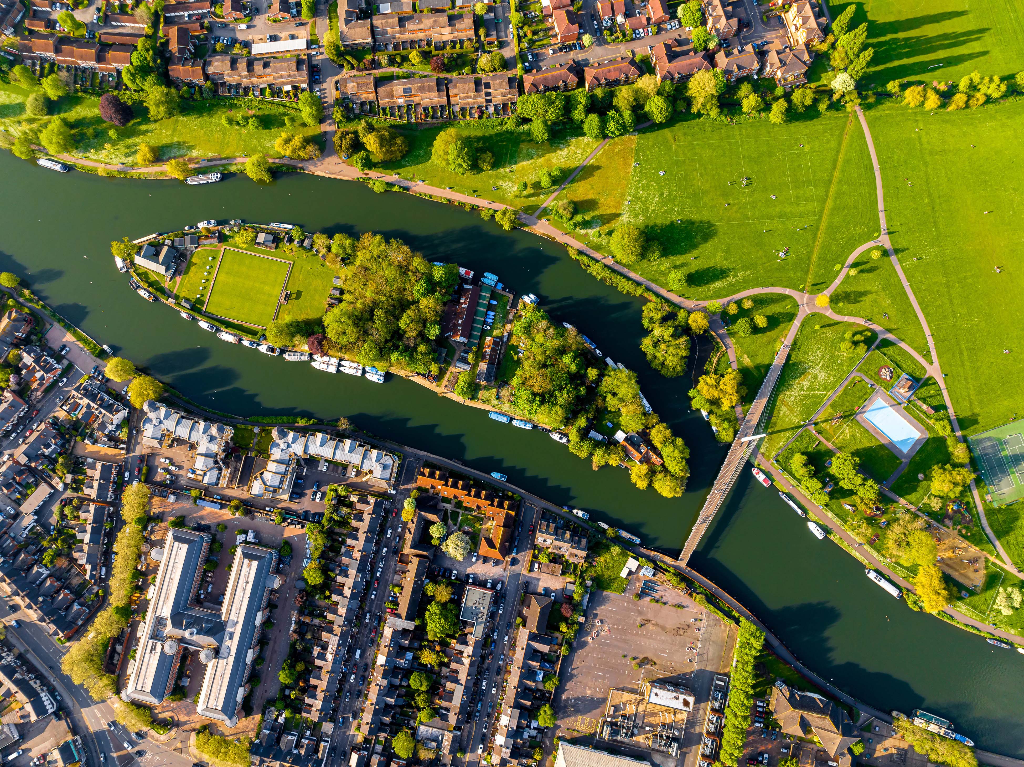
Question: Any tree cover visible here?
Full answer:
Yes, there's tree cover in this view.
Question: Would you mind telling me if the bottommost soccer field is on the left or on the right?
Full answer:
The bottommost soccer field appears in the right half of the scene.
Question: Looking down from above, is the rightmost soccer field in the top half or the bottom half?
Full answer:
The top half of the photo is where the rightmost soccer field is.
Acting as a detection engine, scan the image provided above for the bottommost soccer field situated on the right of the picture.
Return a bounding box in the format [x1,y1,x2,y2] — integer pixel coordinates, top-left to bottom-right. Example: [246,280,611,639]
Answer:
[673,136,817,225]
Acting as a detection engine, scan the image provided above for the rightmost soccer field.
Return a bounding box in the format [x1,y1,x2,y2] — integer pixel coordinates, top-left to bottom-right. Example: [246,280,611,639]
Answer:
[866,0,975,64]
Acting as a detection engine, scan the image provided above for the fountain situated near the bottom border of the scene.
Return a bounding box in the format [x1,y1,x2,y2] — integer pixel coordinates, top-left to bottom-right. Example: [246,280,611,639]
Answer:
[889,747,907,766]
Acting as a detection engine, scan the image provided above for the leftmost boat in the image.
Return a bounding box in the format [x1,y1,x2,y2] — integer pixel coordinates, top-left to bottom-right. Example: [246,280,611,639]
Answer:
[39,159,69,174]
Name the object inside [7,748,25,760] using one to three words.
vehicle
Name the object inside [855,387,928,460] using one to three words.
swimming pool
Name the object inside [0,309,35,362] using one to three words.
house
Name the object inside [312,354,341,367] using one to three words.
boat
